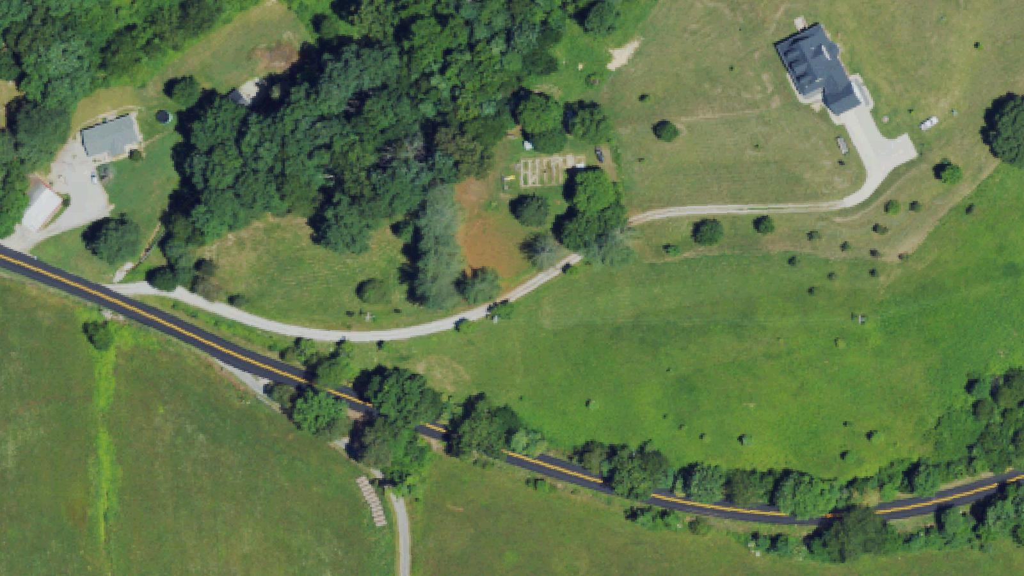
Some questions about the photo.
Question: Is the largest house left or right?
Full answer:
The largest house appears in the right half of the scene.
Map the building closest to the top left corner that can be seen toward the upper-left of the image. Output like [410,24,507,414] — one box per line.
[81,114,140,156]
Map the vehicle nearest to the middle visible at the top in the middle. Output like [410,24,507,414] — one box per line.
[593,146,606,163]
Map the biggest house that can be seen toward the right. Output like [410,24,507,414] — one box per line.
[776,21,863,115]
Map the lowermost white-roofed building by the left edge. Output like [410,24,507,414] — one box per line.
[14,177,62,231]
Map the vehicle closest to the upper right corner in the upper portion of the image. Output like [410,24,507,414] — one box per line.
[921,116,939,130]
